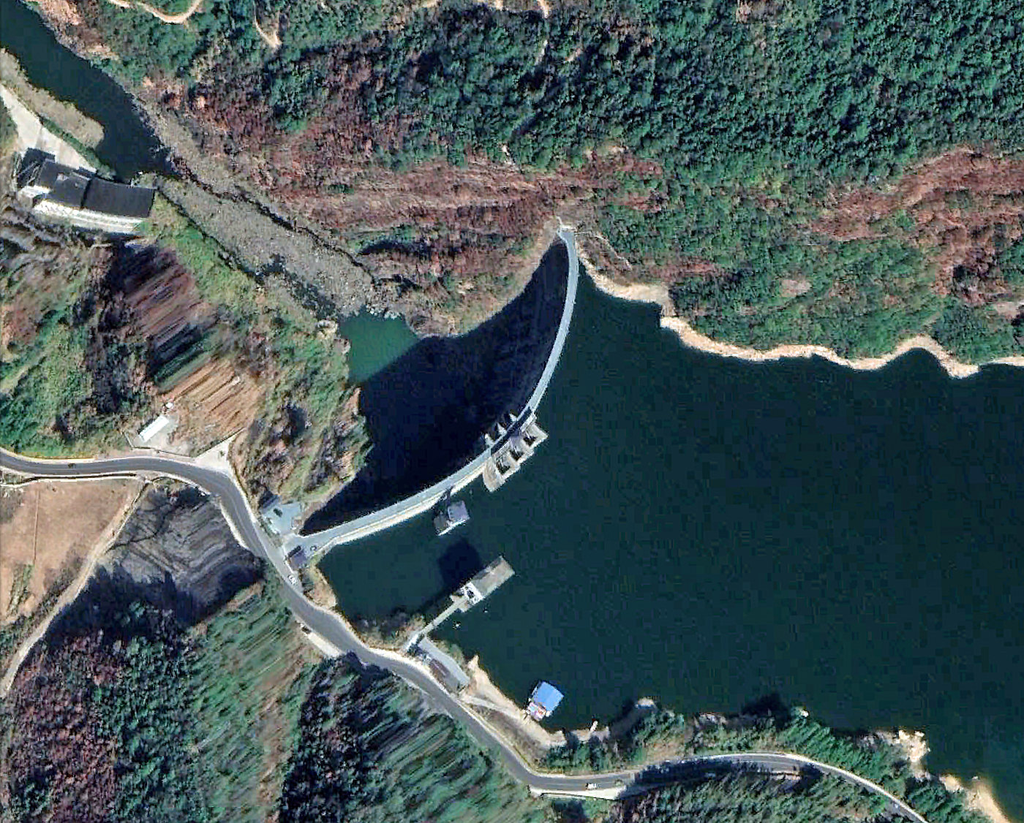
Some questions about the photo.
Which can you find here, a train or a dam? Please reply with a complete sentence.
Looking from above, you can make out a dam.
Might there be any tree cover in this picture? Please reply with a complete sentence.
Yes, the picture does contain tree cover.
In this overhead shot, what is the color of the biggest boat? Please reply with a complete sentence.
The biggest boat looks blue in the image.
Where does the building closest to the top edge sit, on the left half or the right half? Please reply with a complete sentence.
It is on the left.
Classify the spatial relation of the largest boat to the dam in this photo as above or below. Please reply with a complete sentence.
Looking at the scene, the largest boat is located below the dam.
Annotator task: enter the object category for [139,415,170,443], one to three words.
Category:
shed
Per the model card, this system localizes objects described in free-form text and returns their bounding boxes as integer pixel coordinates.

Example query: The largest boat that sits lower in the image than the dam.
[527,681,565,721]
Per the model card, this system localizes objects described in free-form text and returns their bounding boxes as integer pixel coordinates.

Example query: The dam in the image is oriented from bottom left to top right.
[303,232,579,556]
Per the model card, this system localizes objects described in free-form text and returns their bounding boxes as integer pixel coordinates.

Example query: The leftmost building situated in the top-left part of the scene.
[19,159,157,223]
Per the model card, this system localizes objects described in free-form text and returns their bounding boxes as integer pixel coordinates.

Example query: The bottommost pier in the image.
[417,556,515,636]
